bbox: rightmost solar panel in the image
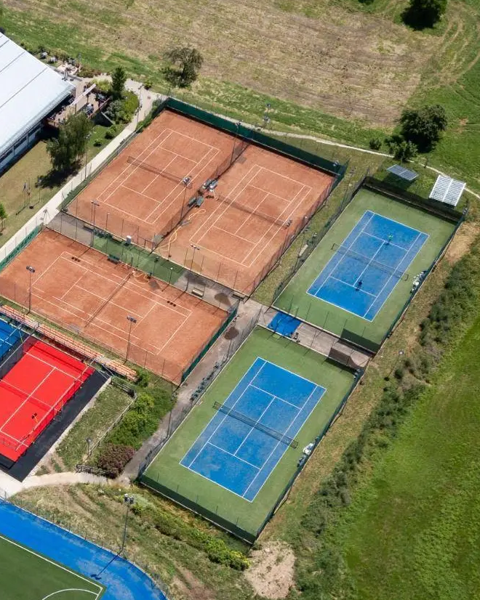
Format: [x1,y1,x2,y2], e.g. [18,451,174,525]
[432,176,465,201]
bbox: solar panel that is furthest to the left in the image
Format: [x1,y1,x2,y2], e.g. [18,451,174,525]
[388,165,419,182]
